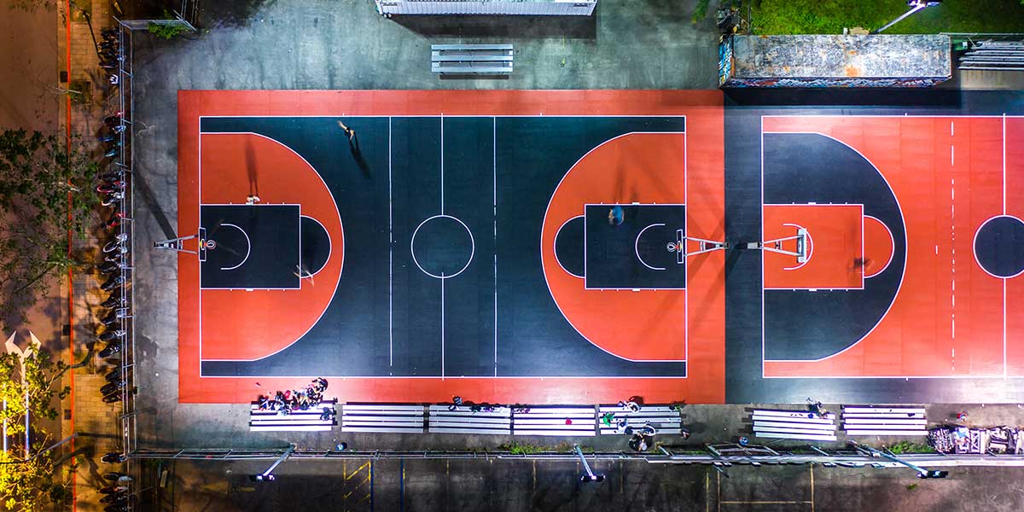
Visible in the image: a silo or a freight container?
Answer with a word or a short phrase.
freight container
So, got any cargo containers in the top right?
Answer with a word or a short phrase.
Yes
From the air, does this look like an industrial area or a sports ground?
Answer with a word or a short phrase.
sports ground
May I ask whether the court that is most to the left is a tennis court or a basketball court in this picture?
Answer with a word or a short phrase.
basketball court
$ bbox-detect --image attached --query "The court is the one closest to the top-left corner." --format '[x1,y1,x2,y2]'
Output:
[178,90,725,404]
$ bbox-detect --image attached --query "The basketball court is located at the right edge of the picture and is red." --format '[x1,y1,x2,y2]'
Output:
[725,90,1024,404]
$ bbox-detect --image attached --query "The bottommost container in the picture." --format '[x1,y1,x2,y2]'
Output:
[722,34,952,87]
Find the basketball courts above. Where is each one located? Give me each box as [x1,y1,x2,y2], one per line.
[725,90,1024,404]
[178,90,725,404]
